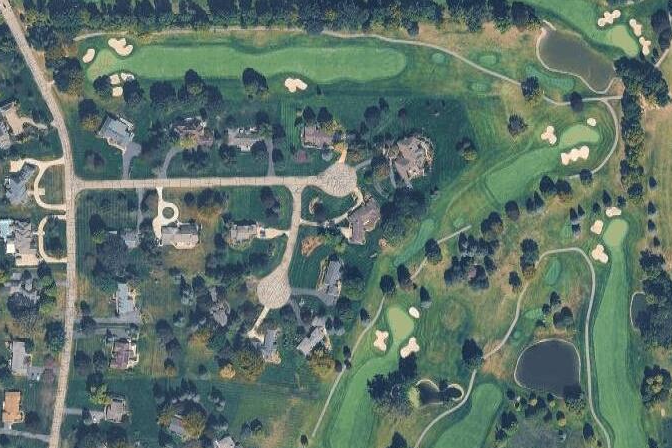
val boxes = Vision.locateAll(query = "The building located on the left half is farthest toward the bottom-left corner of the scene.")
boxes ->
[2,389,22,422]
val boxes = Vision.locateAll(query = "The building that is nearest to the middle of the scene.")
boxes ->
[352,196,379,242]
